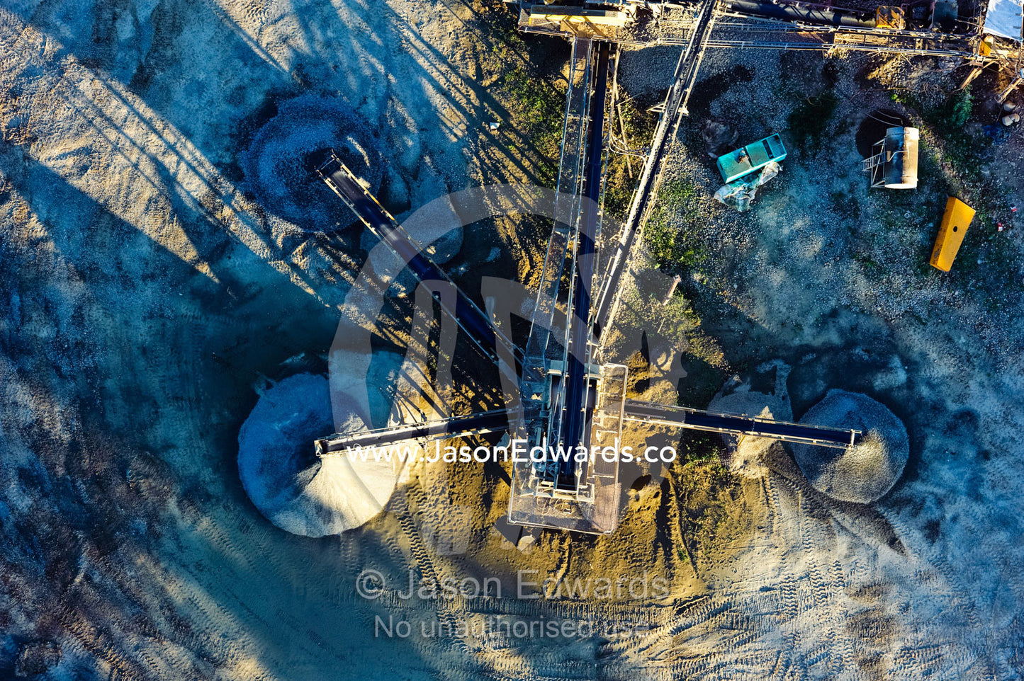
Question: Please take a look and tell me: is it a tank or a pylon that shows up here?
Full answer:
This aerial view contains a tank.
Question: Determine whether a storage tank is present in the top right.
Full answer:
Yes, looking in the top right, one can make out a storage tank.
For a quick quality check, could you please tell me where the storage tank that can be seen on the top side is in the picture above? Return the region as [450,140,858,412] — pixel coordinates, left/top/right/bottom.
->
[855,123,920,193]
